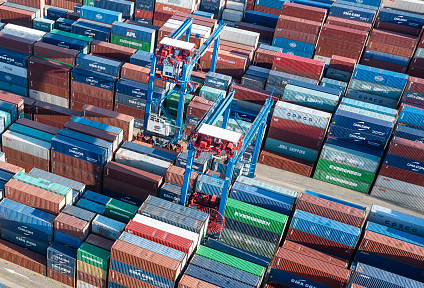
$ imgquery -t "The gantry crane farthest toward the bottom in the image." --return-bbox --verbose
[180,77,281,244]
